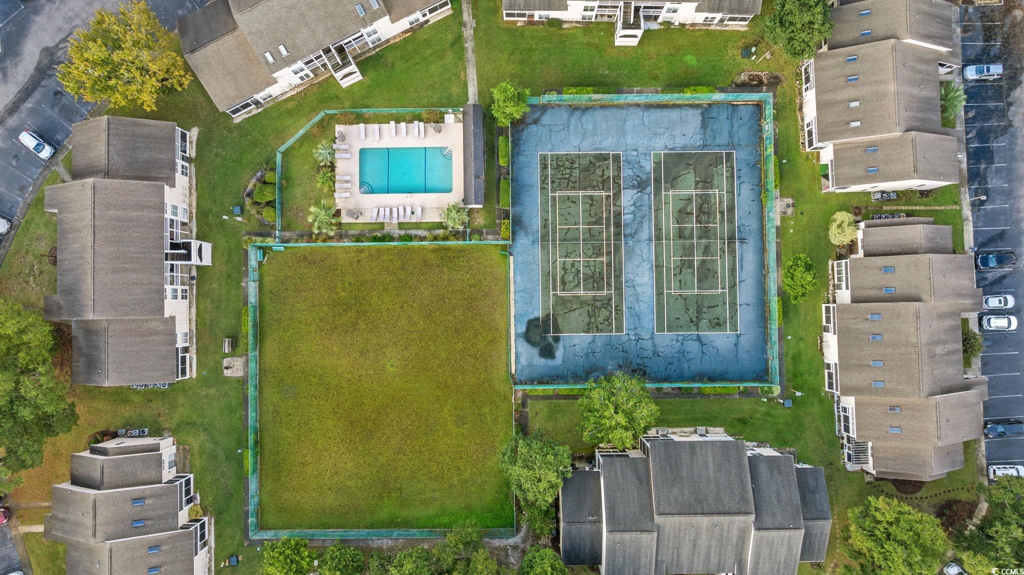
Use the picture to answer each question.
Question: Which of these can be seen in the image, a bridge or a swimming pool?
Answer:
swimming pool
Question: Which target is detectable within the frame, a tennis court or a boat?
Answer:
tennis court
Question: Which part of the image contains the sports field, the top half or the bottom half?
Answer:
bottom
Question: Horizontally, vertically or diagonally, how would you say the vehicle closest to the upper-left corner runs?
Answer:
diagonally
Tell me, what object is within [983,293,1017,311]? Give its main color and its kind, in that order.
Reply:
white car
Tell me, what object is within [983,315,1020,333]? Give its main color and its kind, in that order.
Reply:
white car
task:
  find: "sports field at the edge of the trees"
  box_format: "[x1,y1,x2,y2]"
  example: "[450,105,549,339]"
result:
[258,245,514,529]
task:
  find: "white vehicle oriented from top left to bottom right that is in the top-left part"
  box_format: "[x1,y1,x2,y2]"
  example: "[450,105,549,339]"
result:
[13,128,53,158]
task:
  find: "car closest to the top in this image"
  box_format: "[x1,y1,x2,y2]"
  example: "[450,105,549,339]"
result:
[966,61,1010,80]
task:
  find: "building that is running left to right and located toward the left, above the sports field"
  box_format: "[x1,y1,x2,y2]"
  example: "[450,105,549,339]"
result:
[173,0,451,118]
